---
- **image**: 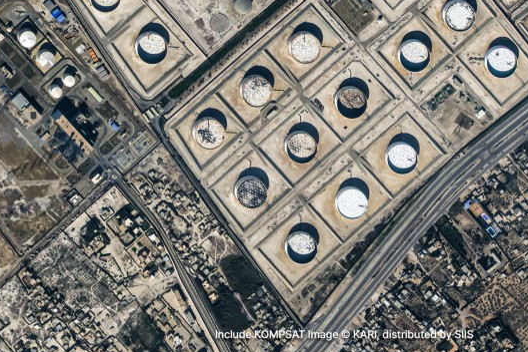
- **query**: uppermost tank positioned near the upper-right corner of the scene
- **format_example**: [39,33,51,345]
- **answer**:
[442,0,476,41]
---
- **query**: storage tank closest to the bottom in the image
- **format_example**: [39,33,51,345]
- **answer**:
[284,217,317,264]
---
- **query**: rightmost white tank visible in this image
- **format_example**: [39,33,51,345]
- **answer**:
[472,43,519,77]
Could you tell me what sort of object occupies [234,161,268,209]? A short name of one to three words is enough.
storage tank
